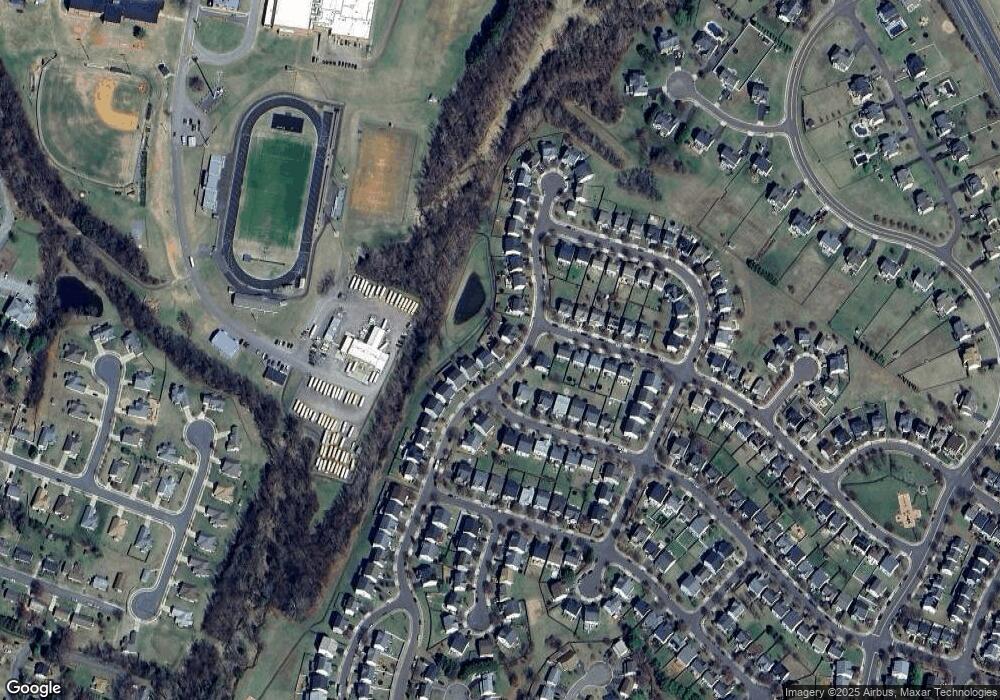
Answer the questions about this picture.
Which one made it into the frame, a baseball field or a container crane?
baseball field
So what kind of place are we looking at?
residential area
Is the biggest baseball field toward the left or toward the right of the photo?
left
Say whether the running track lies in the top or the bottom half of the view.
top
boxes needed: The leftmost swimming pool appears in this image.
[707,21,721,37]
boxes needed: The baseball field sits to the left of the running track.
[37,62,150,188]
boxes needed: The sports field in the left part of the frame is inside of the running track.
[238,135,314,248]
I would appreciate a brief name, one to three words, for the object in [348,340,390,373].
building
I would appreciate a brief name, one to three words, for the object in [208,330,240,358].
shed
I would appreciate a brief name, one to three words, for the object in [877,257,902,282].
house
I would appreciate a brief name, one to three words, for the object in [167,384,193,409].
house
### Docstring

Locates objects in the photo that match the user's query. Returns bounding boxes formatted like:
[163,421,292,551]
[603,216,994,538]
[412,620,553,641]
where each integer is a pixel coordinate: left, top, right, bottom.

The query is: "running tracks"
[218,90,333,296]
